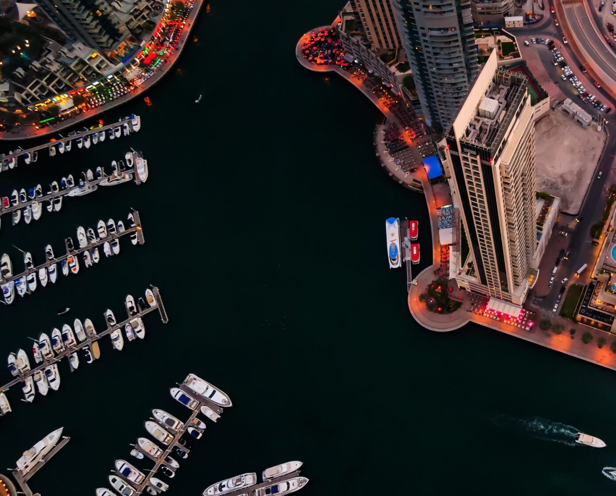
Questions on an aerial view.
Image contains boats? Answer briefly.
Yes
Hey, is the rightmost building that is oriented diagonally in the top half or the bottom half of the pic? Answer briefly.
top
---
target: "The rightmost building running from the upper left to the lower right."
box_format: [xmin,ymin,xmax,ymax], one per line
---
[563,97,594,127]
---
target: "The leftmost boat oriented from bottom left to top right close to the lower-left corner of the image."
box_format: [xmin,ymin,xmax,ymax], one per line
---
[13,426,63,474]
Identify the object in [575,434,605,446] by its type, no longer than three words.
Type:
boat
